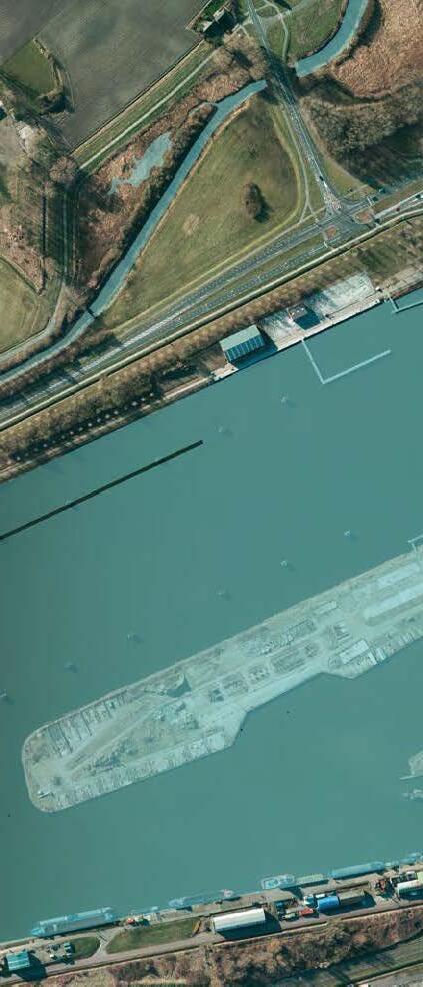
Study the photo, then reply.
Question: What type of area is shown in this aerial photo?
port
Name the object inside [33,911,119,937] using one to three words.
ship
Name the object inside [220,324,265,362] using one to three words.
building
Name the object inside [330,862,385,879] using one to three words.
ship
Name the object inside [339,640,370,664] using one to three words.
shed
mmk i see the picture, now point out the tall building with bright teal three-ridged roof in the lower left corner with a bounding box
[5,951,30,972]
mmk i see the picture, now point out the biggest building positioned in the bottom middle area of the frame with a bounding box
[213,909,266,932]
